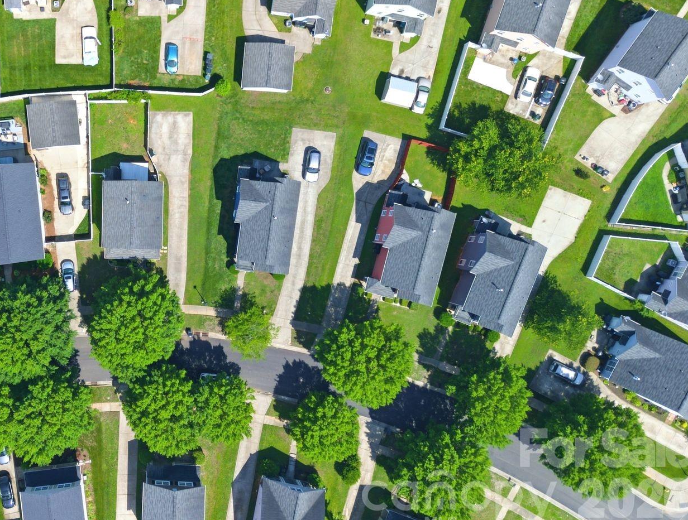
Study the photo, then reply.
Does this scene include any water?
No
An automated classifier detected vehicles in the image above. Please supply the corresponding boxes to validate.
[82,26,103,66]
[533,74,557,109]
[516,65,541,104]
[355,137,378,179]
[0,436,11,463]
[59,259,76,292]
[164,42,179,75]
[56,174,74,215]
[412,77,431,113]
[547,360,584,385]
[304,148,321,182]
[0,472,16,508]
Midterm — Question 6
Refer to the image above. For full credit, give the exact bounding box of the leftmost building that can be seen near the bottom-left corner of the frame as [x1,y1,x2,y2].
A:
[19,461,87,520]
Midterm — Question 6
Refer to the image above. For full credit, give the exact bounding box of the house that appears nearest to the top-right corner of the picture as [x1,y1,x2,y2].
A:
[586,7,688,104]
